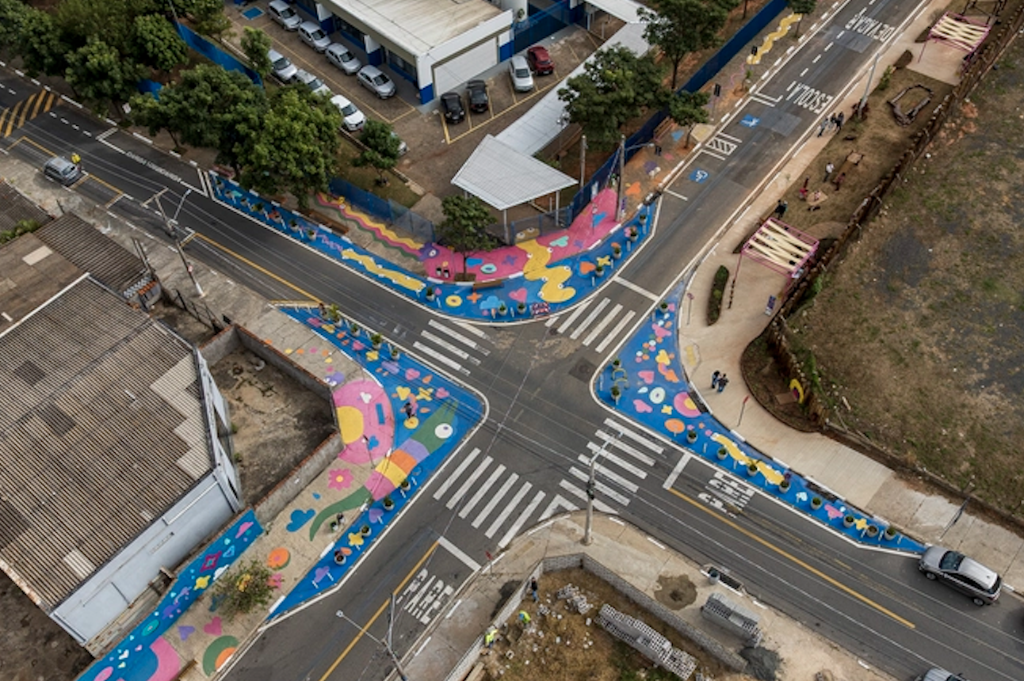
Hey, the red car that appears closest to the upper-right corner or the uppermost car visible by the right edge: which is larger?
the uppermost car visible by the right edge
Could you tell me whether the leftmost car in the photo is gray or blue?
gray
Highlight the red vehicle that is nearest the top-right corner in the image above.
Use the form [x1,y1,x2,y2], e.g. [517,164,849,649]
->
[525,42,556,72]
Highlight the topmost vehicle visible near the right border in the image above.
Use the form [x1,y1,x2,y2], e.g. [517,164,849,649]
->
[912,546,1011,615]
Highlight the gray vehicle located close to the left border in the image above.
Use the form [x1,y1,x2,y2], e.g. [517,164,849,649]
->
[37,151,86,185]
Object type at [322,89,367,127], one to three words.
car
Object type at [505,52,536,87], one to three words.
car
